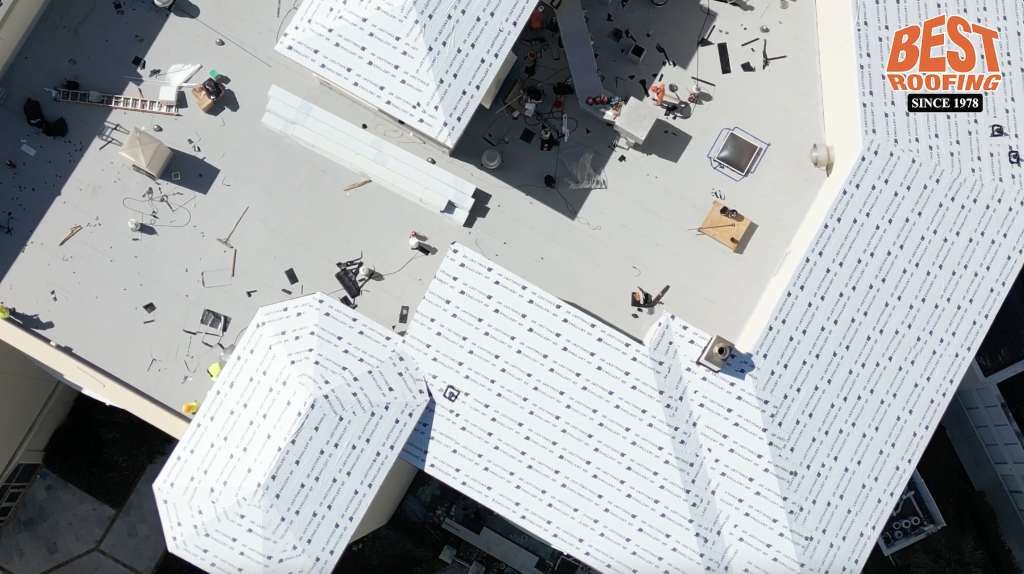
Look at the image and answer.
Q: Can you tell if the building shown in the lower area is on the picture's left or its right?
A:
left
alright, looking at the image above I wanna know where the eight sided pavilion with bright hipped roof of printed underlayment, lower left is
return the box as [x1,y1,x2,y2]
[155,292,429,574]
